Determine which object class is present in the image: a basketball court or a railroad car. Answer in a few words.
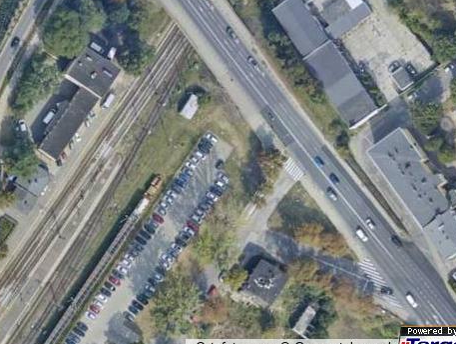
railroad car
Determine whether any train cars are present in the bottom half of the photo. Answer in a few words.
Yes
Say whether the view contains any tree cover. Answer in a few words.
Yes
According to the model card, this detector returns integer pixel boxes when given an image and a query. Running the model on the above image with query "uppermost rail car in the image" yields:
[141,174,162,201]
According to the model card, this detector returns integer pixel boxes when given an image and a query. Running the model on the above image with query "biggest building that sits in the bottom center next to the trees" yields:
[240,258,288,306]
